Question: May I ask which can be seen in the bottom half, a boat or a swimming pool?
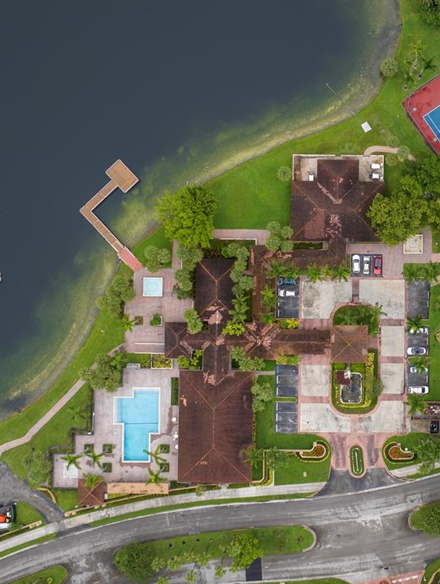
swimming pool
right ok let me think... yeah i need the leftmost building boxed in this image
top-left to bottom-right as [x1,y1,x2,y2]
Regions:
[77,479,105,505]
